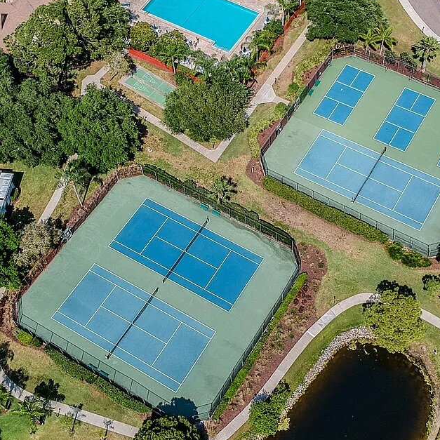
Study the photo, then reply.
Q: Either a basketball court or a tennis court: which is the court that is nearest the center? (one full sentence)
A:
The court that is nearest the center appears to be a tennis court.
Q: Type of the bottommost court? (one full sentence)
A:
It looks like the bottommost court is a tennis court.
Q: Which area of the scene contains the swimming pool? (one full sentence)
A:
The swimming pool is in the top part of the image.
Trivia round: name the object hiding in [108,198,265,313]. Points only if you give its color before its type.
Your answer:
blue tennis court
